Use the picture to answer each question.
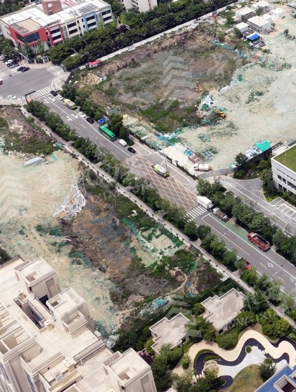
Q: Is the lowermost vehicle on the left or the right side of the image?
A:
right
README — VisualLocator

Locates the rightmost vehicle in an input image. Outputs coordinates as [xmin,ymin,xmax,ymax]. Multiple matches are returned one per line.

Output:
[247,228,269,247]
